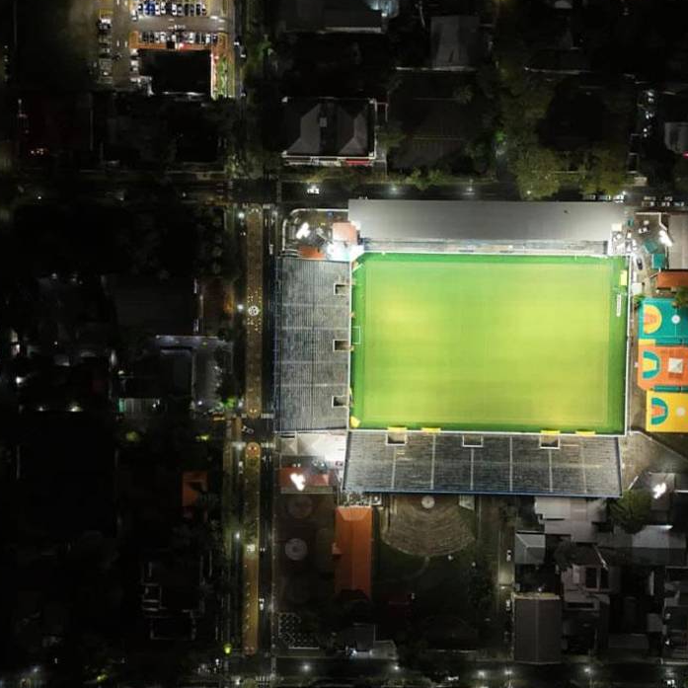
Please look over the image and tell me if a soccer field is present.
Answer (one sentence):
Yes, I can see a soccer field in this picture.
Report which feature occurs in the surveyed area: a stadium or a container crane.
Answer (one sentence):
It is a stadium that can be seen here.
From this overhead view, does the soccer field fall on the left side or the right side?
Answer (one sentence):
The soccer field sits on the right side.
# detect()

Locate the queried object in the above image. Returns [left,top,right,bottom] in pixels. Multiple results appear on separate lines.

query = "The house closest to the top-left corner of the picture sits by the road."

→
[19,94,94,157]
